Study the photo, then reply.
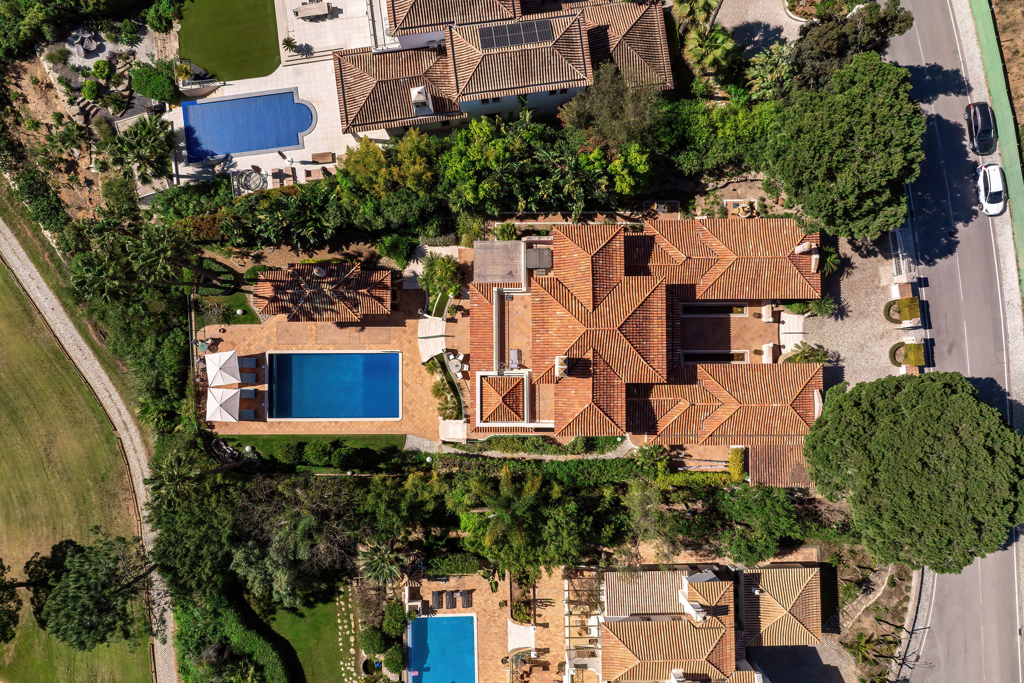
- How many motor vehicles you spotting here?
2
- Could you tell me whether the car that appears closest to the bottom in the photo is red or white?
white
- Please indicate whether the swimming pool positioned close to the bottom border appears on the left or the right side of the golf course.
right of it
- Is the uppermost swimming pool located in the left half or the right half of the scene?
left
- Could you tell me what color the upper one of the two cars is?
black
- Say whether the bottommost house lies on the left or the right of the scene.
right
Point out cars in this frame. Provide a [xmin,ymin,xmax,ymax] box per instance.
[965,101,1000,157]
[974,163,1009,218]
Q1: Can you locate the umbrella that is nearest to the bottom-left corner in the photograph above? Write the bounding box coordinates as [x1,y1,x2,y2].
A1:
[206,388,240,422]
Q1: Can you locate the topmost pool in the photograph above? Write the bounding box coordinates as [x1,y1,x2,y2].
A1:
[182,87,318,167]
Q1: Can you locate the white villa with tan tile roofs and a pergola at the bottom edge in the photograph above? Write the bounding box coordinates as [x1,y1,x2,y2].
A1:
[599,554,823,683]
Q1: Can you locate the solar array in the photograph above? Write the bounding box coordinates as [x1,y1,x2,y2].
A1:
[479,20,553,49]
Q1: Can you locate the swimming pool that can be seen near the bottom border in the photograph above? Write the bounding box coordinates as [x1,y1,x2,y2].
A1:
[409,613,478,683]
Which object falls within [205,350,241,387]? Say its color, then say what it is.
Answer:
white umbrella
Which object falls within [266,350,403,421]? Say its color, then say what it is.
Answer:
blue swimming pool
